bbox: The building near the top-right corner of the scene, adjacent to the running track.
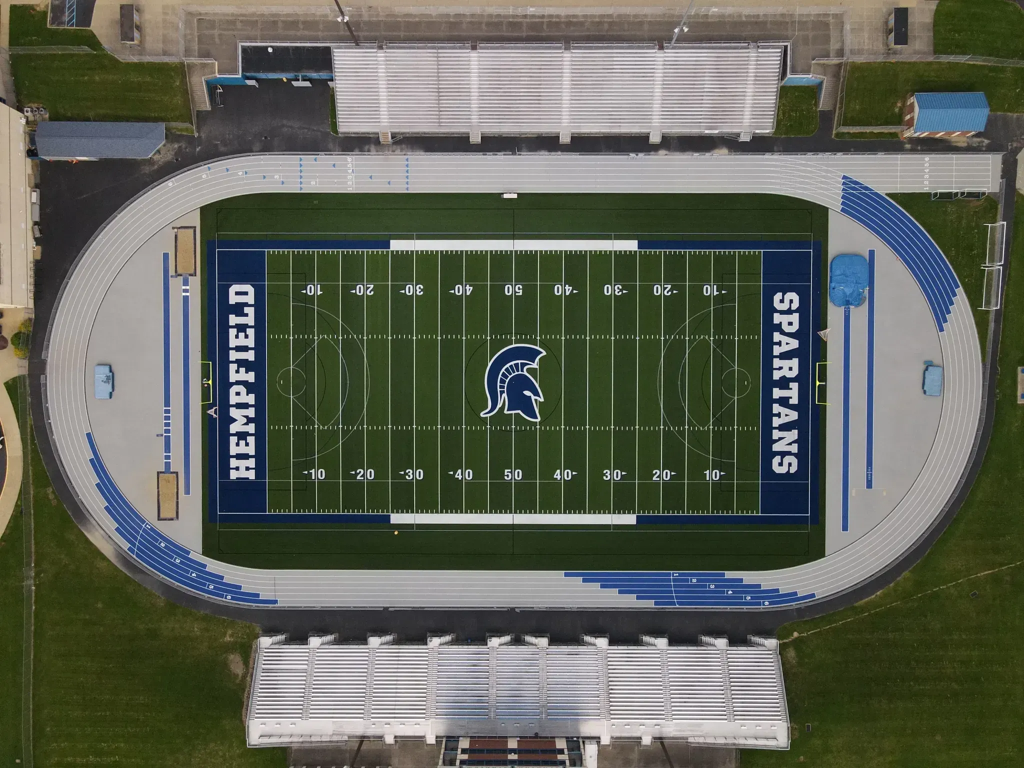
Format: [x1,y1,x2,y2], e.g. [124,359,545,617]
[905,92,989,137]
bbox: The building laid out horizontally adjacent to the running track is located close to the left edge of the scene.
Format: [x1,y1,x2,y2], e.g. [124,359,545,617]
[35,122,166,162]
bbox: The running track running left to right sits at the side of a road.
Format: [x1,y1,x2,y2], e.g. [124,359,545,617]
[50,153,1002,606]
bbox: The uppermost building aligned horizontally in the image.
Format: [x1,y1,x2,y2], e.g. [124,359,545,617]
[245,46,336,80]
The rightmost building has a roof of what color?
blue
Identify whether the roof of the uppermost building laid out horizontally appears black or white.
black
